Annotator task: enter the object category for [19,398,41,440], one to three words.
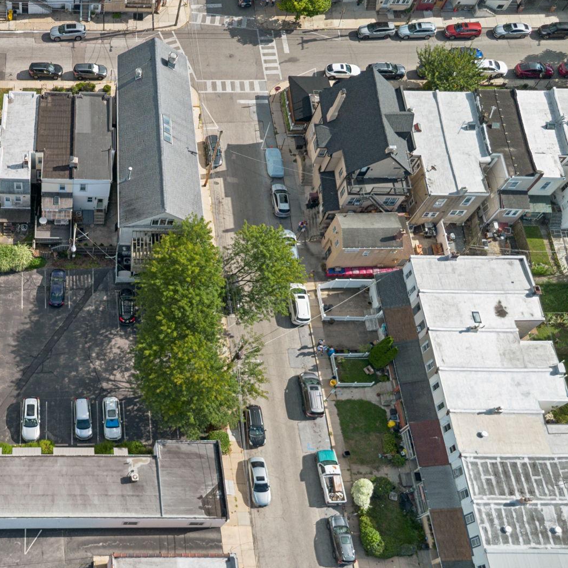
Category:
car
